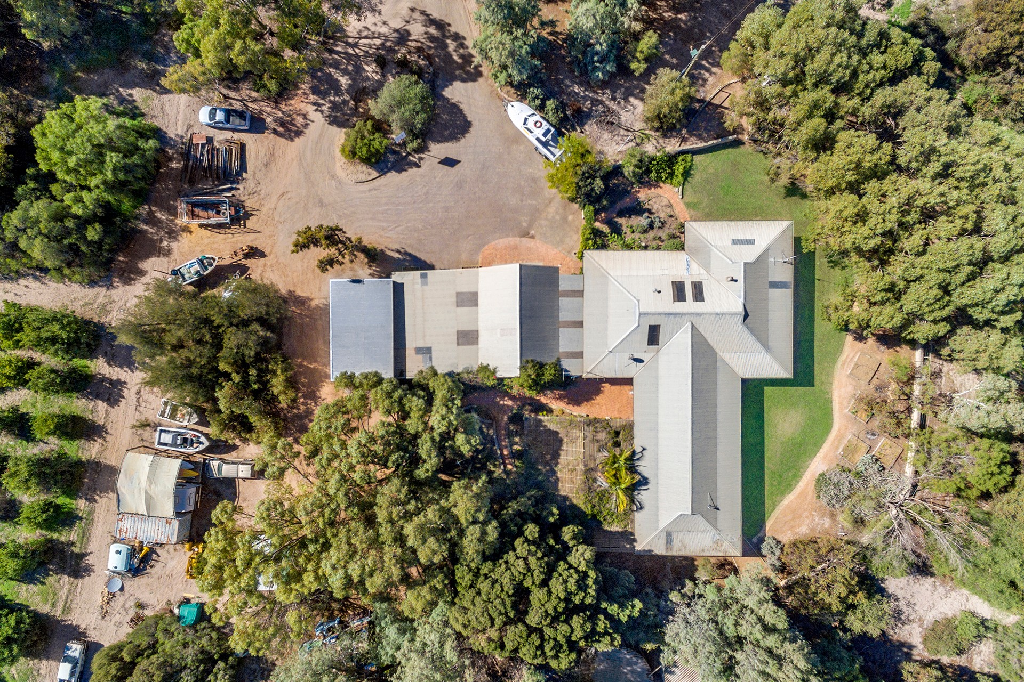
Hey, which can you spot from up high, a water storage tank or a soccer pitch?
water storage tank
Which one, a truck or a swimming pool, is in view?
truck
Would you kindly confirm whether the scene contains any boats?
Yes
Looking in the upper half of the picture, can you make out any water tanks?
No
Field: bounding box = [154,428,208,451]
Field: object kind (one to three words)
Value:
boat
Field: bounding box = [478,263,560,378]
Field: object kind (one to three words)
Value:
shed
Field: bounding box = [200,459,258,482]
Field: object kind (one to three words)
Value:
truck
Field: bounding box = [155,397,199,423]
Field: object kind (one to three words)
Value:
boat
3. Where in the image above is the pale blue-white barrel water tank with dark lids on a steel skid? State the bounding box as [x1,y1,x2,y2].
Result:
[99,544,130,577]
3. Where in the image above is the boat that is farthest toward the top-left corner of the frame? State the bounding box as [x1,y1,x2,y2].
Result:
[166,255,216,288]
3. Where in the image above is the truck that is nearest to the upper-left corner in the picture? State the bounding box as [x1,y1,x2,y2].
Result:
[195,101,250,129]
